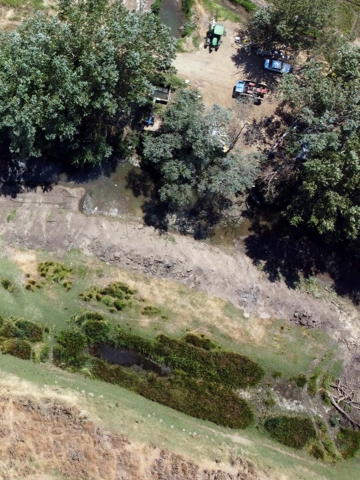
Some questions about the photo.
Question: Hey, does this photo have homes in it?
No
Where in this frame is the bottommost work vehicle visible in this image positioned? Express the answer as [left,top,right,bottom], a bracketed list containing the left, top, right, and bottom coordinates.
[243,81,272,99]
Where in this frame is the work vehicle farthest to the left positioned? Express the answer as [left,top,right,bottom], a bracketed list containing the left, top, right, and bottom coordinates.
[204,24,224,52]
